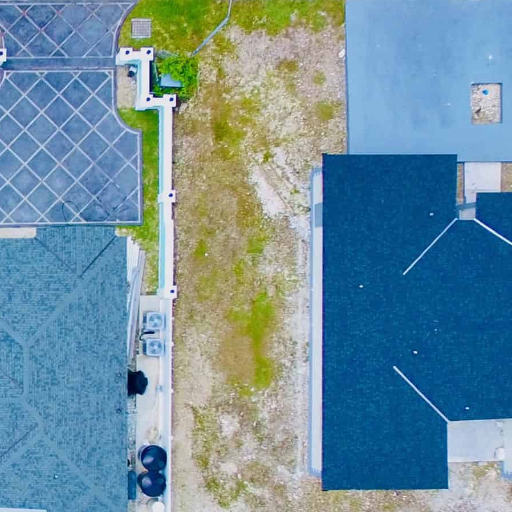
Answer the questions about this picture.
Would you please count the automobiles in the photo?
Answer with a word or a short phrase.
0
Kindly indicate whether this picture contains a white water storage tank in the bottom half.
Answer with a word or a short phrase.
No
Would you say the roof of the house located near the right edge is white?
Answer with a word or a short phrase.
No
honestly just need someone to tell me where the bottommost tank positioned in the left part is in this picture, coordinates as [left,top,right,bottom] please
[136,469,165,497]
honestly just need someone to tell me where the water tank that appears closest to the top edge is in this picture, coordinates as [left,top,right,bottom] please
[135,442,166,471]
